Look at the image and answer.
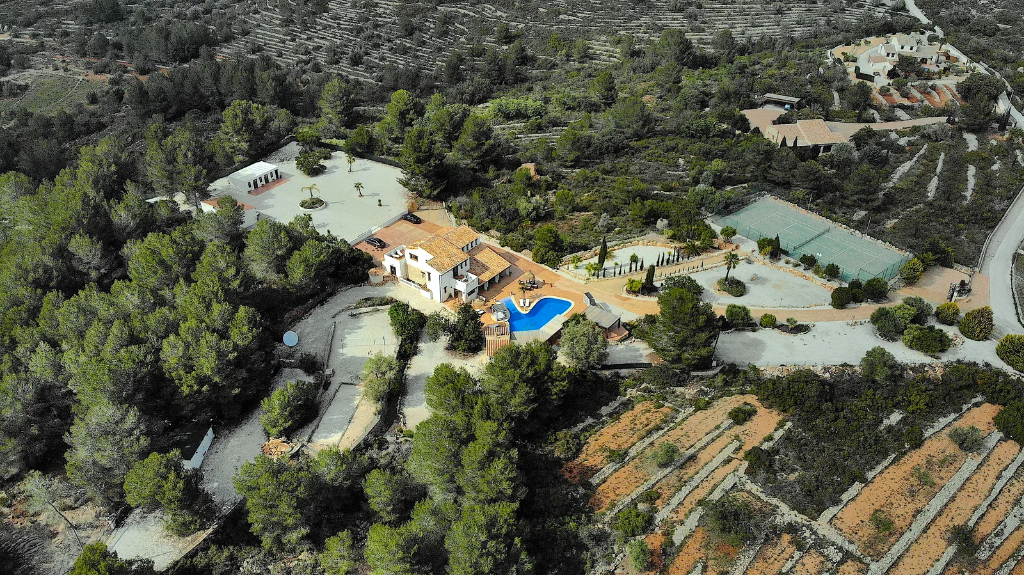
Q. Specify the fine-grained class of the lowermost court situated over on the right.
tennis court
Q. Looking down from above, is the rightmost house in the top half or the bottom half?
top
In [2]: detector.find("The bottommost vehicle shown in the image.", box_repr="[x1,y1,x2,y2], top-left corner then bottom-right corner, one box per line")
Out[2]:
[363,235,385,249]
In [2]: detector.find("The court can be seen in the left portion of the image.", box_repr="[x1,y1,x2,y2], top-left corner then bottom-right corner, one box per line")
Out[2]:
[330,309,400,384]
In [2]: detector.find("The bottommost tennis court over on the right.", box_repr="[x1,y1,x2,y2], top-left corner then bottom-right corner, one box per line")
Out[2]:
[716,196,914,289]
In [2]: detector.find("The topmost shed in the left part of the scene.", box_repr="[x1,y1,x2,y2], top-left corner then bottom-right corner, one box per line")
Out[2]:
[229,160,293,194]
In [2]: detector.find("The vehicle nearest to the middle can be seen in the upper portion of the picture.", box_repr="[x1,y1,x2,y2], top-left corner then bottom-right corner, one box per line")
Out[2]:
[401,212,422,224]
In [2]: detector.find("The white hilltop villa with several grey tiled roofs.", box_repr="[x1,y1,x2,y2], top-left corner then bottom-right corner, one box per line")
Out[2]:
[868,36,965,71]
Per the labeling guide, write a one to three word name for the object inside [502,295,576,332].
swimming pool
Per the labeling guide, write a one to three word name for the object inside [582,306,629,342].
shed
